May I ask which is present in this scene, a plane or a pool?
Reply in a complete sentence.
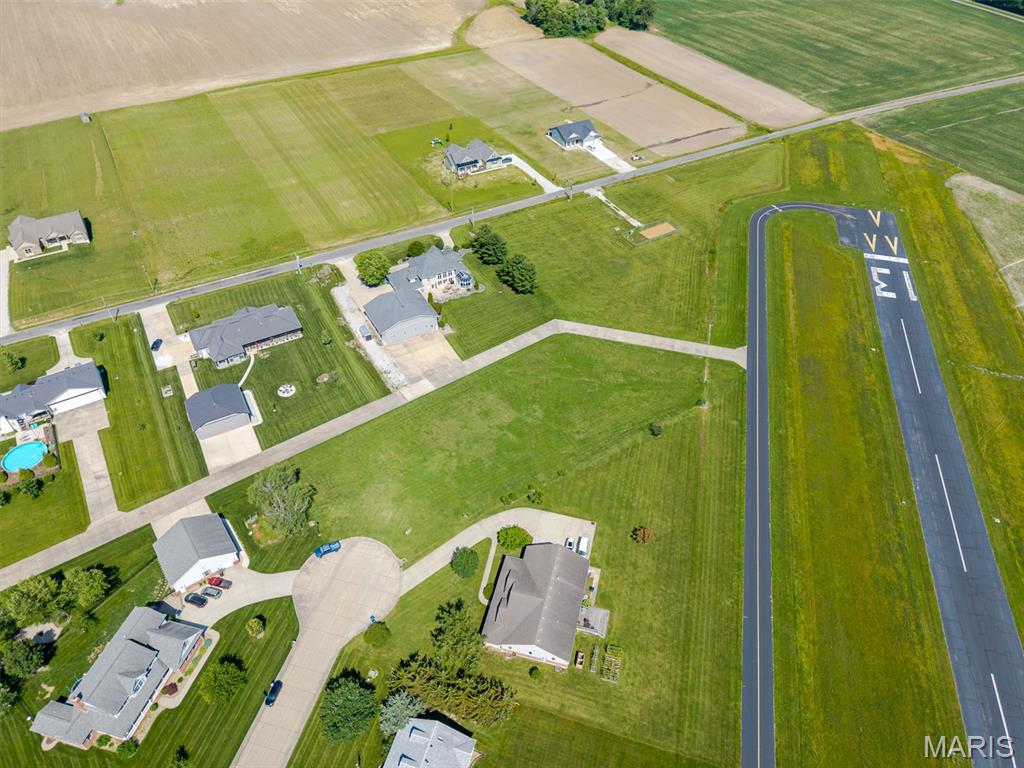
Visible in the photo is a pool.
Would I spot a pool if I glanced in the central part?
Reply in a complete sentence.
No, I can find no pool in the central part.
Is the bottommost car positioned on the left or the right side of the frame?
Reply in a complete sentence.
It is on the left.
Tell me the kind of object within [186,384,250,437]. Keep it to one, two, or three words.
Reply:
building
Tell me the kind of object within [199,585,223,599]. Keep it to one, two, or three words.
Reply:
car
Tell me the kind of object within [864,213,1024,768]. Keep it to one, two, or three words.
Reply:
runway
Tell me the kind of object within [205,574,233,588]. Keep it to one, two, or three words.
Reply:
vehicle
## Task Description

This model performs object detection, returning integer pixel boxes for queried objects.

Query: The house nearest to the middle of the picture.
[363,244,476,340]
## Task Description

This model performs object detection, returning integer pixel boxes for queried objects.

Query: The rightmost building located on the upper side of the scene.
[547,119,602,148]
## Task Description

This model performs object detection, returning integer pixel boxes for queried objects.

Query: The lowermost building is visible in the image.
[385,718,477,768]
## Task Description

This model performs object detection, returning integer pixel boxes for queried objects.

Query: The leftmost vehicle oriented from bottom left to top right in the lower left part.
[261,678,285,705]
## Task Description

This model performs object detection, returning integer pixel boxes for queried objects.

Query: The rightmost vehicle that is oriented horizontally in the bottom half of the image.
[314,540,341,555]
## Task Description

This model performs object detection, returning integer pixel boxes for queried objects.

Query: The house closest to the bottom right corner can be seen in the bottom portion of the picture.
[477,545,591,667]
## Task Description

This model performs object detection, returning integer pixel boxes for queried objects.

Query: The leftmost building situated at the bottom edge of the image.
[29,606,200,750]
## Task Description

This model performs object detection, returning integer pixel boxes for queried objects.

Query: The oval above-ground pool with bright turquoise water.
[1,443,49,471]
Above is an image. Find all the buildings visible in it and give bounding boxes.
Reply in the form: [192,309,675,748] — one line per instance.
[385,718,477,768]
[186,384,250,437]
[363,244,476,340]
[188,304,305,366]
[29,606,200,750]
[547,119,602,148]
[8,214,93,261]
[477,545,591,667]
[153,513,239,592]
[0,359,105,439]
[443,141,507,179]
